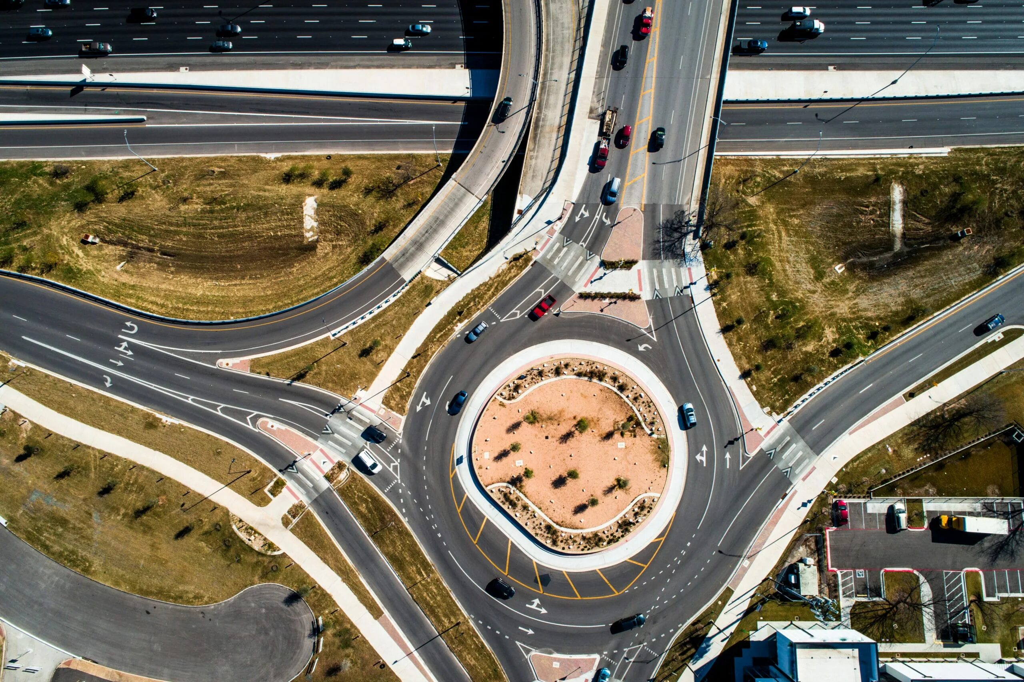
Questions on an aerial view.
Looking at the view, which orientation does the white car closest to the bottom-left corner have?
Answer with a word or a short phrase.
diagonally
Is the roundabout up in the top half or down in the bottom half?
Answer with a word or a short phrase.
bottom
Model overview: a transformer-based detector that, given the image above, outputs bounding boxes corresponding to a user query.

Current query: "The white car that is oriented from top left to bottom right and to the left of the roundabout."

[359,450,383,473]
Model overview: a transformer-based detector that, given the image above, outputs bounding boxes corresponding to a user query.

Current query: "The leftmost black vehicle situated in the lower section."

[364,424,389,443]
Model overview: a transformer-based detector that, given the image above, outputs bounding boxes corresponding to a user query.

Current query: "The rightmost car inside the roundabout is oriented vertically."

[683,403,697,427]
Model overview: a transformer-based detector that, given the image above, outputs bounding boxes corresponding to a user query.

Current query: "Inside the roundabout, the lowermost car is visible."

[619,613,645,630]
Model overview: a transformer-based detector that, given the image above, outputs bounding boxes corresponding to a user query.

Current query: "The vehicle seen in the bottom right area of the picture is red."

[835,501,849,524]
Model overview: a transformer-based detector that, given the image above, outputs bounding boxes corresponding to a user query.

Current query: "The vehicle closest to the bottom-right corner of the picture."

[937,515,1011,533]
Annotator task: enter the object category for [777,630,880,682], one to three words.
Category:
building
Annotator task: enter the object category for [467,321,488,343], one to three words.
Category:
car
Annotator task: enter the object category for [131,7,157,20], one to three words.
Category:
vehicle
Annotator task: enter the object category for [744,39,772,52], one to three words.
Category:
vehicle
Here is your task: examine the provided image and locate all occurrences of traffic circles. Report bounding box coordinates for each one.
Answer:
[385,298,776,667]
